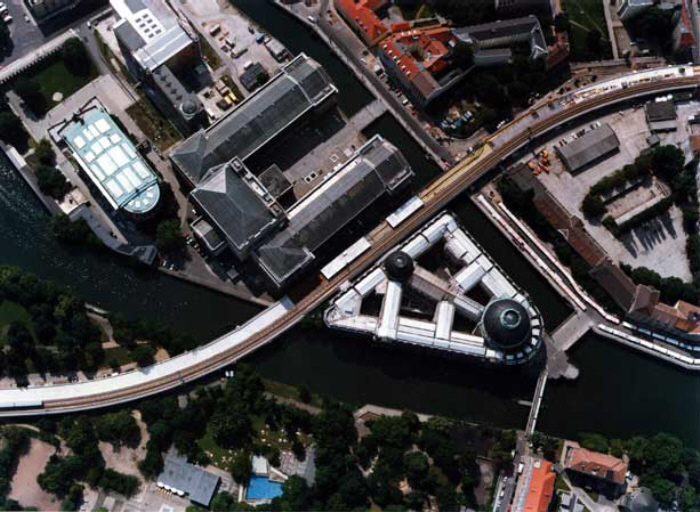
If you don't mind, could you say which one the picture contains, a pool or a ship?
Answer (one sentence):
It is a pool that can be seen here.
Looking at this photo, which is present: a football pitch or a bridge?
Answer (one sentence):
Of the two, only a bridge appears.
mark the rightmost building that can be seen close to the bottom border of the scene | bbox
[617,481,661,512]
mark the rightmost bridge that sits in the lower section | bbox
[550,310,595,354]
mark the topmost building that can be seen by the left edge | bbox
[25,0,86,40]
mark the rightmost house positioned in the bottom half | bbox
[642,300,700,346]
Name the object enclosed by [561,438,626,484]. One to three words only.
house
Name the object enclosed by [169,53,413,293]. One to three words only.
building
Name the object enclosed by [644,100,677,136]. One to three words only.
shed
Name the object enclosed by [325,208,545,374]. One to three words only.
building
